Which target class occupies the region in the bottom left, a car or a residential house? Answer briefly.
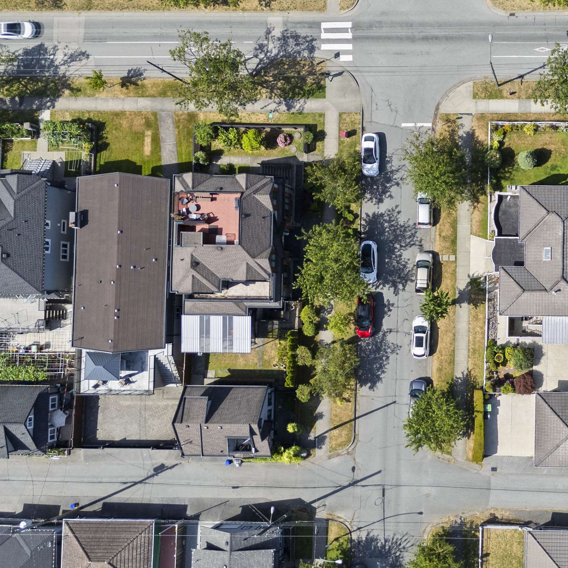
residential house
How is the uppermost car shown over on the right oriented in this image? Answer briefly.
from top to bottom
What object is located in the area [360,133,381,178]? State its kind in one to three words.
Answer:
car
